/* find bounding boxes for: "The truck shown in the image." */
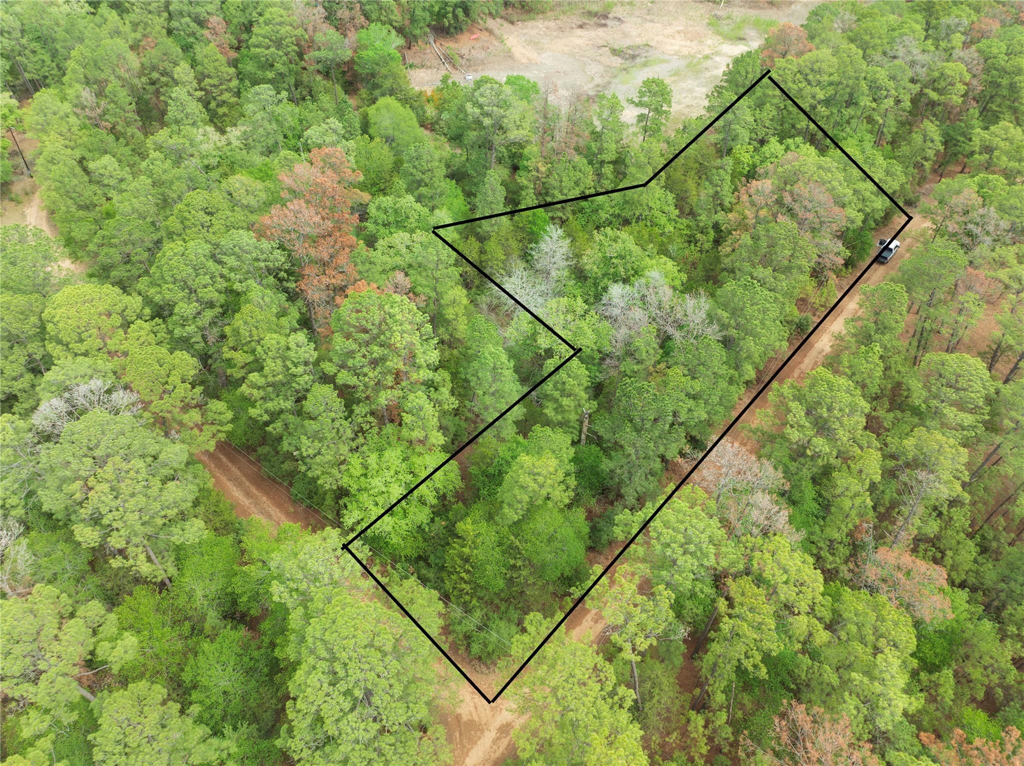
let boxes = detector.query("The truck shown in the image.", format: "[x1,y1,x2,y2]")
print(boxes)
[877,236,902,258]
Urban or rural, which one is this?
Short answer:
rural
